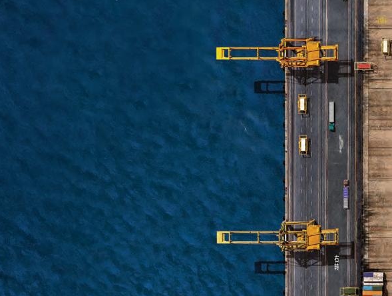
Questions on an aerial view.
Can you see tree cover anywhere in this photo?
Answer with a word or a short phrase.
No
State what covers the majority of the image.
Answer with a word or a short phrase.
water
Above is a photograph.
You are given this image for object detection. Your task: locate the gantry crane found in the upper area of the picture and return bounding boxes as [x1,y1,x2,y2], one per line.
[216,36,337,69]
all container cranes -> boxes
[216,36,337,69]
[216,218,337,252]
